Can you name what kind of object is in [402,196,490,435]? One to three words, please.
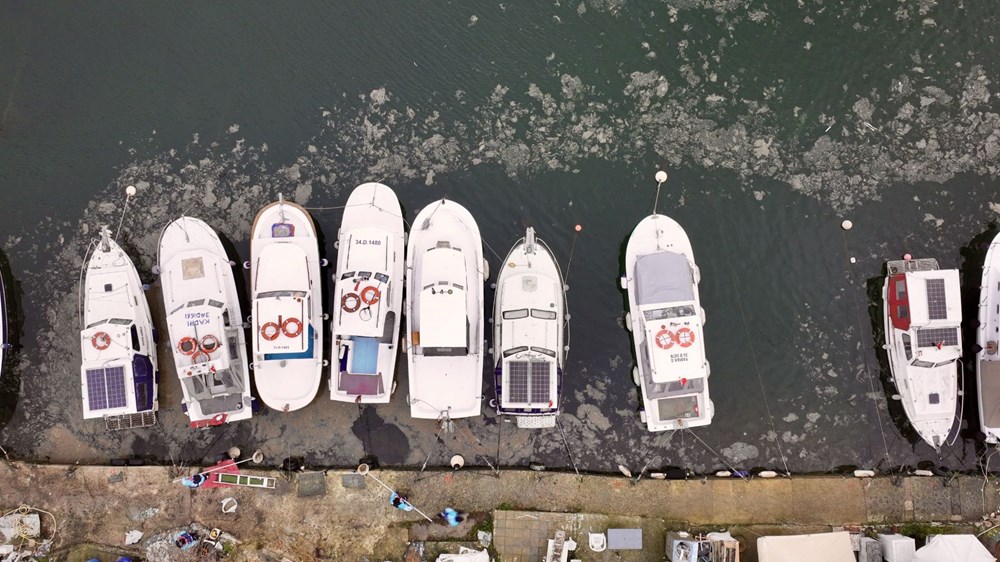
boat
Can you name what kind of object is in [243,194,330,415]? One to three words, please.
boat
